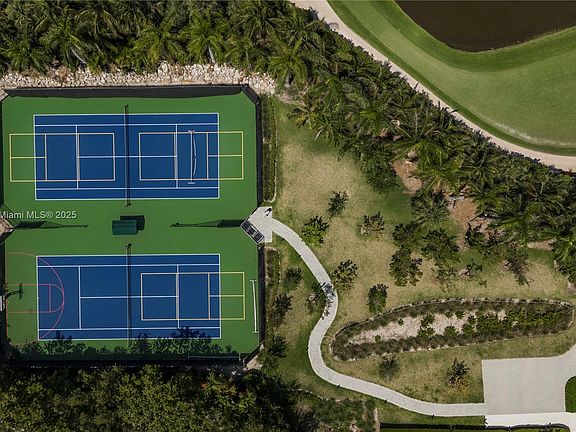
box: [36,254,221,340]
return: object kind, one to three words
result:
tennis court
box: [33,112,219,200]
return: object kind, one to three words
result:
tennis court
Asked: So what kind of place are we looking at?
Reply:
sports ground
